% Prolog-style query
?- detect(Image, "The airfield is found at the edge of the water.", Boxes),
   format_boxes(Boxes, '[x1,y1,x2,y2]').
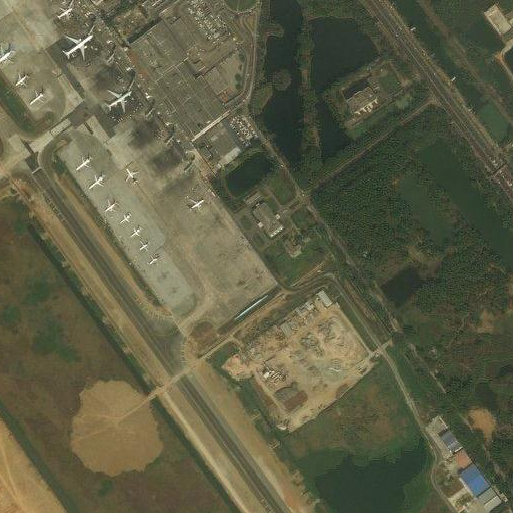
[0,0,294,513]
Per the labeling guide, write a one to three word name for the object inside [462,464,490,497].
building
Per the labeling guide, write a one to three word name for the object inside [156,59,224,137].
building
